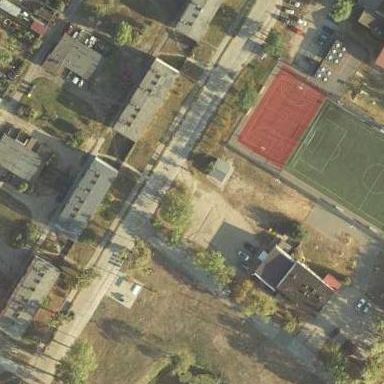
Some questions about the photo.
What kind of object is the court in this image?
basketball court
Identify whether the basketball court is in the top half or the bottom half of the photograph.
top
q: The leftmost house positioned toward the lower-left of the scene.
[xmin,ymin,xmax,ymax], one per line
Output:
[0,252,61,338]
